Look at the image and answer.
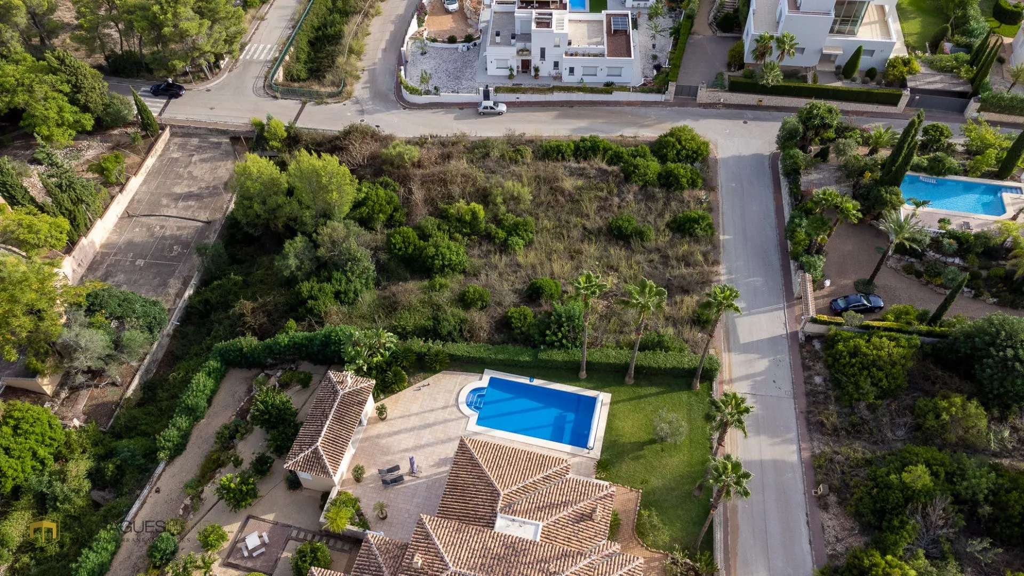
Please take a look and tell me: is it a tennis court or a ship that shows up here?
tennis court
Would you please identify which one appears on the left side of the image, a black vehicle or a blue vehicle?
black vehicle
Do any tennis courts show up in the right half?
No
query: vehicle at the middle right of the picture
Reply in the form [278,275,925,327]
[829,291,884,314]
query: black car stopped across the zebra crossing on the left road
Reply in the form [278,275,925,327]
[148,81,186,98]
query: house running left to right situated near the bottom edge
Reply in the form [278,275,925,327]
[304,435,655,576]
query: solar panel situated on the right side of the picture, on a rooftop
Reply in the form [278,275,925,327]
[610,17,629,33]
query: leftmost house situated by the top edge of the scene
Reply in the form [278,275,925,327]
[486,0,633,82]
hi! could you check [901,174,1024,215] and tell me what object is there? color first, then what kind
blue swimming pool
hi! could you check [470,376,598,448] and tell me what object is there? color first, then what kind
blue swimming pool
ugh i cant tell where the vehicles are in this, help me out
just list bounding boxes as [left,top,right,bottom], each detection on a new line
[148,81,186,98]
[829,291,884,314]
[476,100,506,115]
[443,0,458,11]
